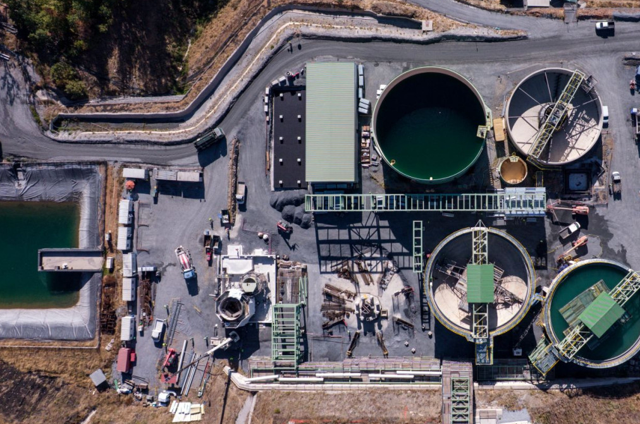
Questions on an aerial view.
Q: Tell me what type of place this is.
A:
industrial area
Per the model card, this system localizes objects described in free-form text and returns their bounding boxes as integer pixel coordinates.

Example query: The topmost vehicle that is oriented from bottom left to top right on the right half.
[559,222,580,238]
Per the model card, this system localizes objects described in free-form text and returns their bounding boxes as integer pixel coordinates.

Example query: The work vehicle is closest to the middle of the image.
[276,219,294,237]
